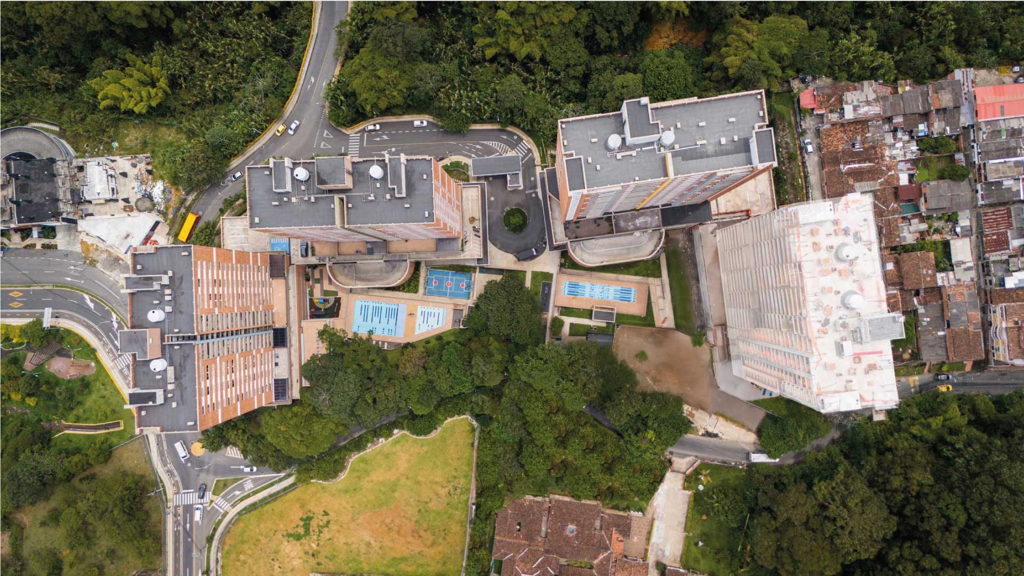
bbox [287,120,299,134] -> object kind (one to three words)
vehicle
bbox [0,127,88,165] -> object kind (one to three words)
building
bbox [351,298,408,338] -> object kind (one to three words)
swimming pool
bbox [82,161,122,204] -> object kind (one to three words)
house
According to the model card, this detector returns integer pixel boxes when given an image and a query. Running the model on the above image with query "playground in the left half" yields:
[309,297,341,318]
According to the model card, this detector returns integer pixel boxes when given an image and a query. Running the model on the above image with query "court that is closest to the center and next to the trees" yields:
[423,267,473,301]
